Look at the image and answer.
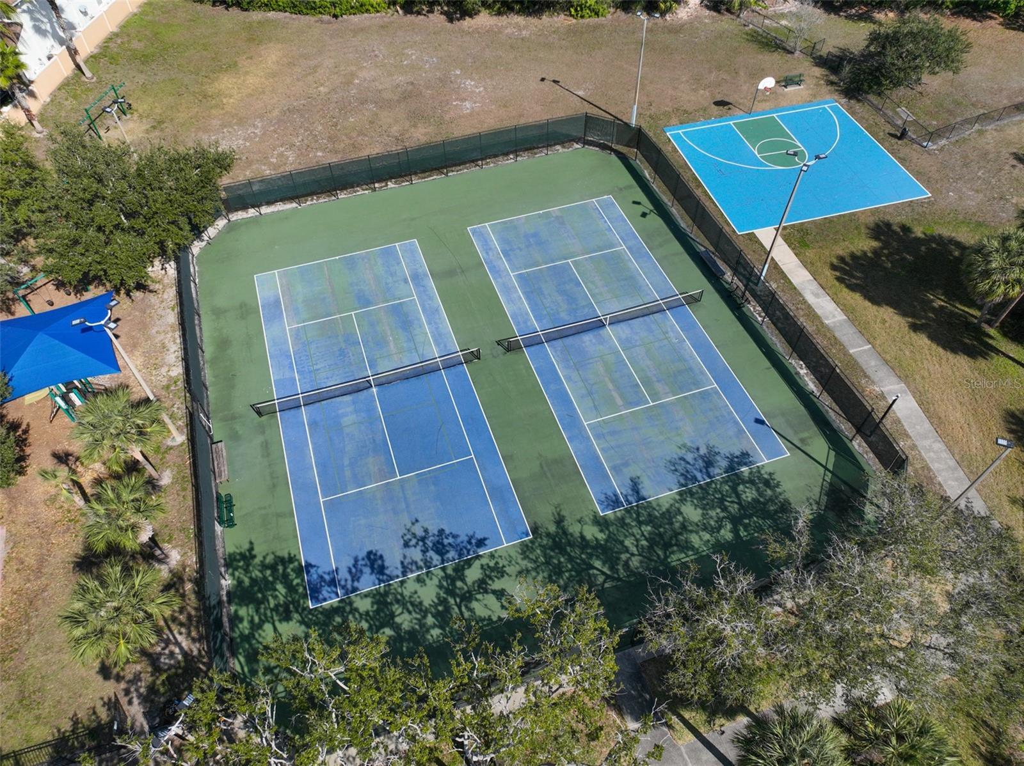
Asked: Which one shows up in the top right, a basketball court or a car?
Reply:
basketball court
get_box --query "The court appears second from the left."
[468,196,788,514]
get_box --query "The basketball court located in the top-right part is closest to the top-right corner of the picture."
[663,98,934,234]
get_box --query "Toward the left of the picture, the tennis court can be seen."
[256,239,531,606]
